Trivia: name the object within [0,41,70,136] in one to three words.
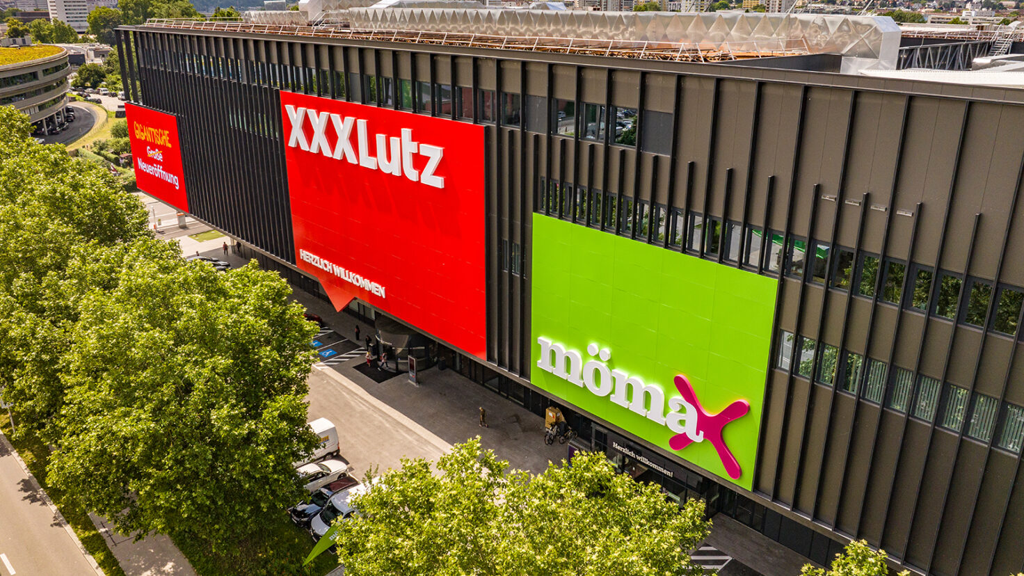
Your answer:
building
